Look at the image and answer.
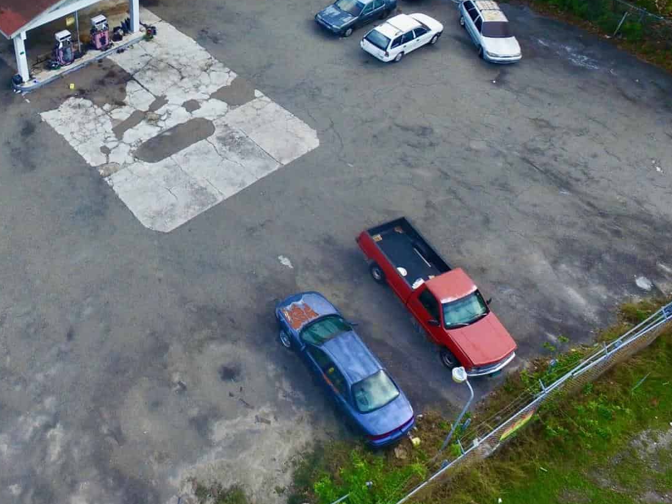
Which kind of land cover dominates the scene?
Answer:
paved ground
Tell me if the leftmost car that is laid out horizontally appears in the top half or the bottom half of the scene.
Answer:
top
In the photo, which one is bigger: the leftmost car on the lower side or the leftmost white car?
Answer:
the leftmost car on the lower side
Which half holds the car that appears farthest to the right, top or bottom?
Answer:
top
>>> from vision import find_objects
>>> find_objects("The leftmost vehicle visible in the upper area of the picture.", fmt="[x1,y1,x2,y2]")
[313,0,398,38]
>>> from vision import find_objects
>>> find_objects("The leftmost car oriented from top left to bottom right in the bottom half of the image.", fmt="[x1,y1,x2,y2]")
[279,295,424,459]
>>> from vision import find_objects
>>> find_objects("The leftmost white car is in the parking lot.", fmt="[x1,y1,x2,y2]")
[357,13,441,63]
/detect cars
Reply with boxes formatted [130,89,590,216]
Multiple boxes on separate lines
[279,295,424,459]
[357,13,441,63]
[313,0,398,38]
[458,0,524,66]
